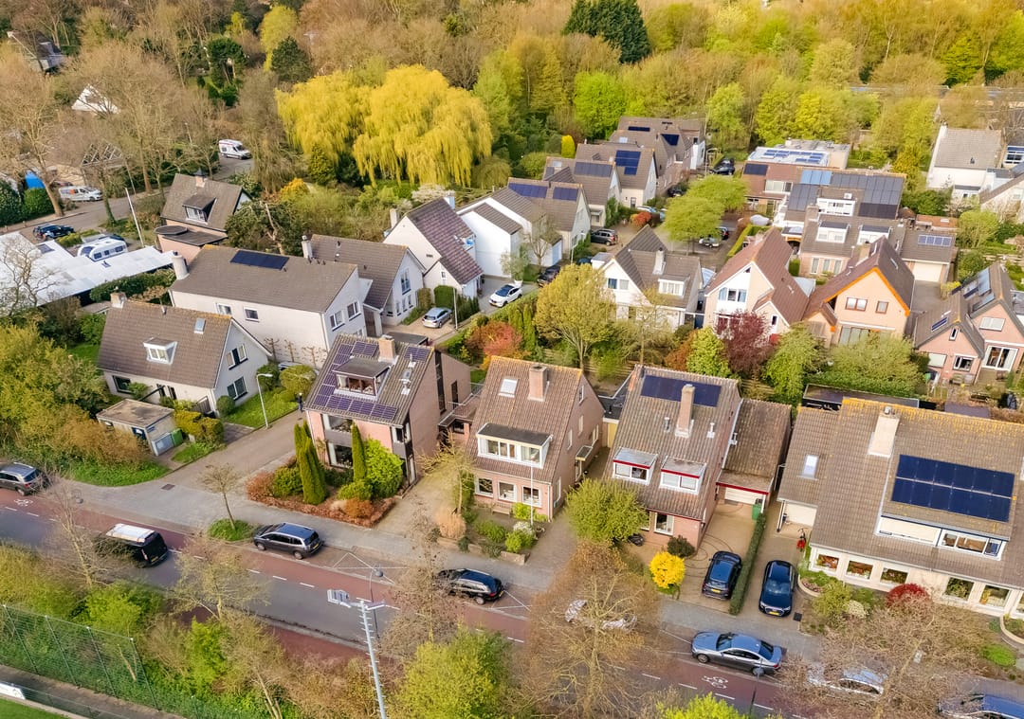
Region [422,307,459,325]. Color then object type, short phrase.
gray car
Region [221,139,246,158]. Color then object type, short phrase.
white vehicle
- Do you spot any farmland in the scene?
No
